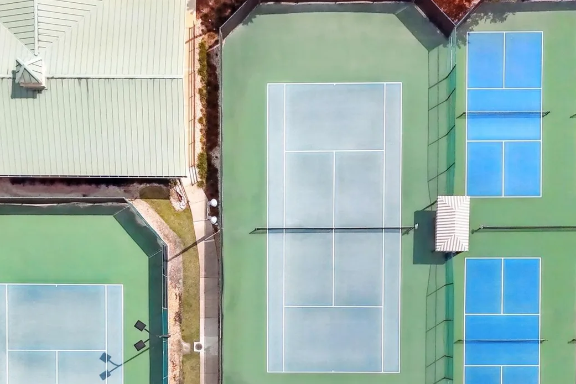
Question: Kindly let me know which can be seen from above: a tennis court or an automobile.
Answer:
tennis court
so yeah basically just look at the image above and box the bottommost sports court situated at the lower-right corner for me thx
[465,257,540,384]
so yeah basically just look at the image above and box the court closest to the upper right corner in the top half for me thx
[467,31,544,196]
